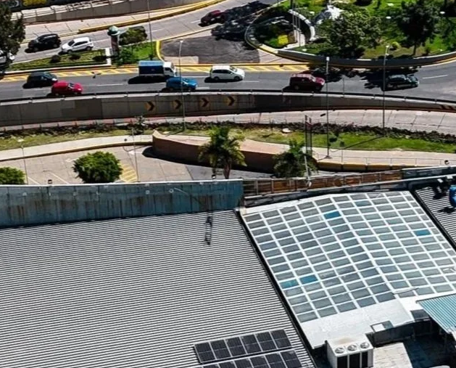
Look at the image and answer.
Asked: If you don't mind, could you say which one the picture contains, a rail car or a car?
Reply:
car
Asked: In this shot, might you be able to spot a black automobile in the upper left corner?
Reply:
Yes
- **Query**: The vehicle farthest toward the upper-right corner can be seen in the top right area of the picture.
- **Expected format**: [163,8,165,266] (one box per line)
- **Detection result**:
[384,76,415,90]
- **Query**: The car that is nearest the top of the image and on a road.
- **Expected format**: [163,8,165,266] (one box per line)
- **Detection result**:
[201,11,227,26]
